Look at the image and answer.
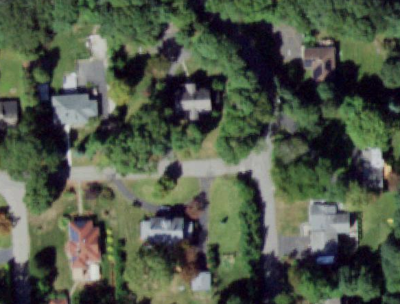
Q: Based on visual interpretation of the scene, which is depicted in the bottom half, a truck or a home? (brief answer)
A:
home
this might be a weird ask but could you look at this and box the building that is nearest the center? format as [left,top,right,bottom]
[180,81,211,121]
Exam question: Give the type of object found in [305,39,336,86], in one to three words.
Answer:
house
